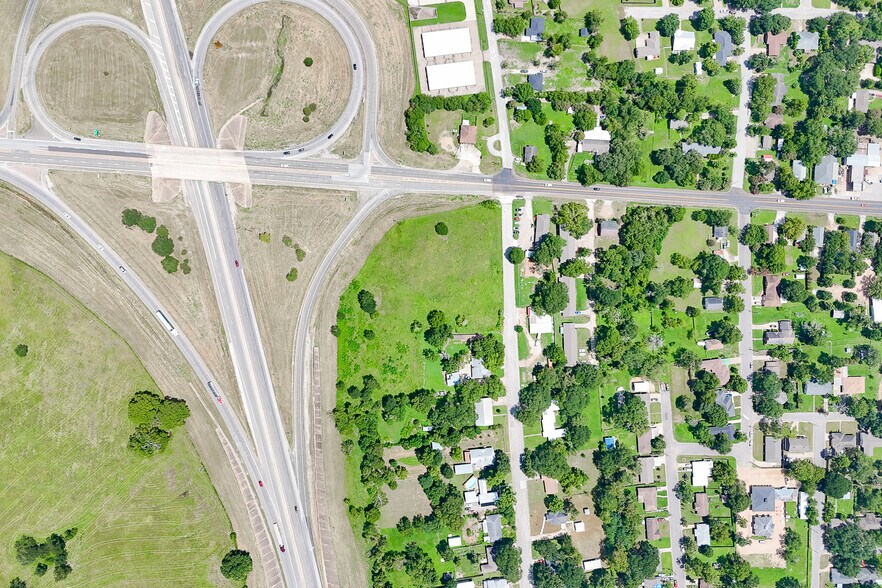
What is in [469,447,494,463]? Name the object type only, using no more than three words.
house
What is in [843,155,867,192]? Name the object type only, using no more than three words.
building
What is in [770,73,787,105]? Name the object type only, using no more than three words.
house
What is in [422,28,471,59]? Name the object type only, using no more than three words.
building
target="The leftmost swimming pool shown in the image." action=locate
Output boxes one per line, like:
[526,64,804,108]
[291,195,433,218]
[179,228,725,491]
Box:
[458,471,482,494]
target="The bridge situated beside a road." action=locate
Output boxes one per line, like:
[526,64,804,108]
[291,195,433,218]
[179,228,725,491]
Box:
[145,144,250,183]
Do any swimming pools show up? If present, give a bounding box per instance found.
[458,471,482,494]
[606,438,616,449]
